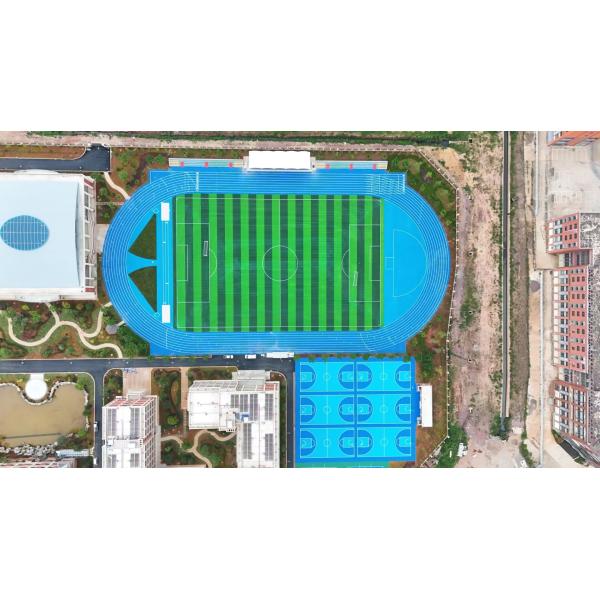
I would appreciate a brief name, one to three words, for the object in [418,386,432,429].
building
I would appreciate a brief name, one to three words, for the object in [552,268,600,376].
building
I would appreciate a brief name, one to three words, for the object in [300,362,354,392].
basketball court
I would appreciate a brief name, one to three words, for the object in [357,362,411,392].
basketball court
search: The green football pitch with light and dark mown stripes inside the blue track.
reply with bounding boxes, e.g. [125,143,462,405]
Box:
[174,194,384,332]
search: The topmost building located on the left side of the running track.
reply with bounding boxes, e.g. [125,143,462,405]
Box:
[0,169,98,302]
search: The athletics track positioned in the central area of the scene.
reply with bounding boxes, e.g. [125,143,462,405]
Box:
[101,167,449,357]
